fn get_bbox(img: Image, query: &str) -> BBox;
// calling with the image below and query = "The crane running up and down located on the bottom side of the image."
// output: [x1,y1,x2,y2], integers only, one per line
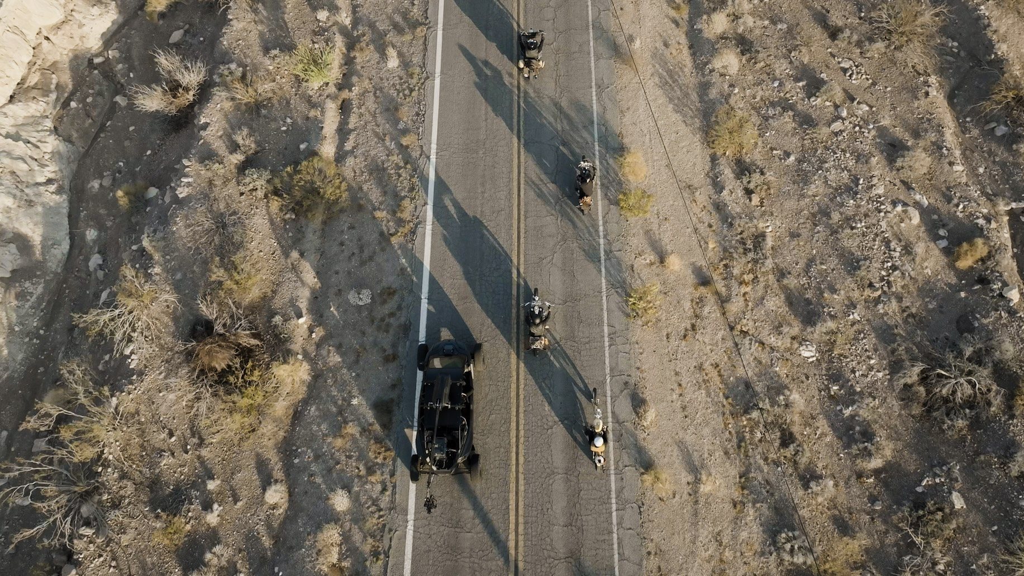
[419,375,451,509]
